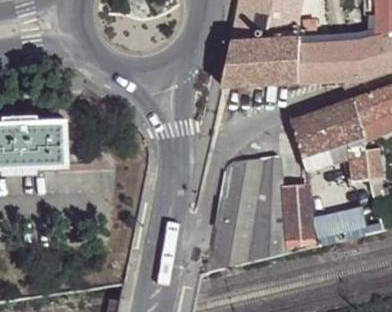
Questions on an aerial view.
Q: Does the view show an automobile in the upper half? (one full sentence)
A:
Yes, the scene does show an automobile in the upper half.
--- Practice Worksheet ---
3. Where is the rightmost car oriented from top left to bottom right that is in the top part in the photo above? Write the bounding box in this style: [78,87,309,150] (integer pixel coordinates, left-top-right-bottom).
[145,111,164,134]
